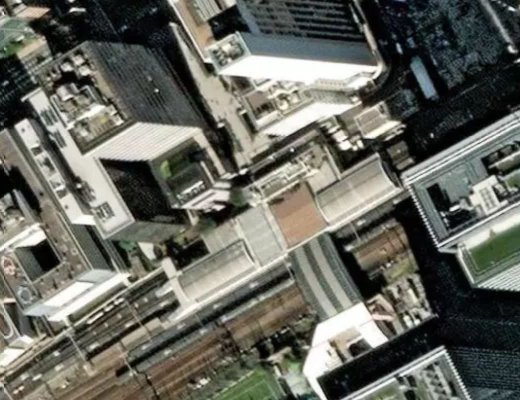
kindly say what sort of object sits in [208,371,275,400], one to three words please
sports field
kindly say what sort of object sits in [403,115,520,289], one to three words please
building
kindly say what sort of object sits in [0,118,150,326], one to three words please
building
